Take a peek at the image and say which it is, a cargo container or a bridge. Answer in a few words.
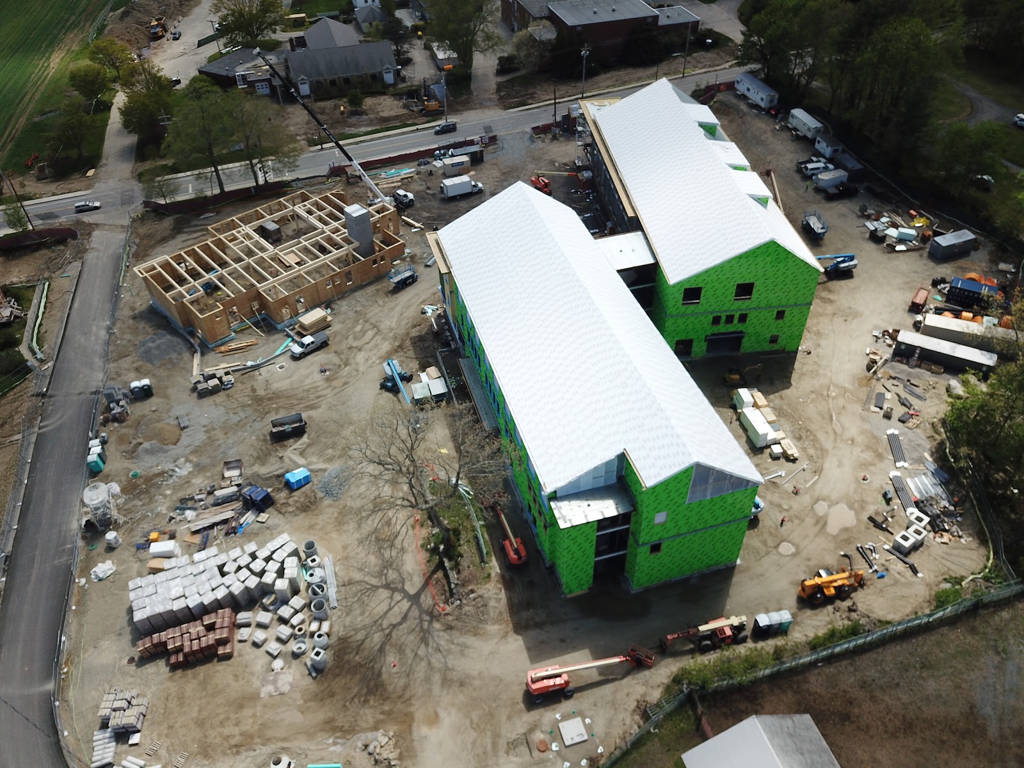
cargo container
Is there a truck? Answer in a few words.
Yes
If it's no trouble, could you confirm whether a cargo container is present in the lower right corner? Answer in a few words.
No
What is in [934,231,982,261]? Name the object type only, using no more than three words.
shipping container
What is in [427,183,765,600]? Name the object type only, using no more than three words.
building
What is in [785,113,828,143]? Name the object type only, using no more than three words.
trailer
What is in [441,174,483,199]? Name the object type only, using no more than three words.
truck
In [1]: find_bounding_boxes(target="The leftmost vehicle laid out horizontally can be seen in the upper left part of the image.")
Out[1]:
[70,199,102,212]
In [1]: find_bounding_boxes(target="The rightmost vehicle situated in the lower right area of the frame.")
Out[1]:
[807,562,875,602]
